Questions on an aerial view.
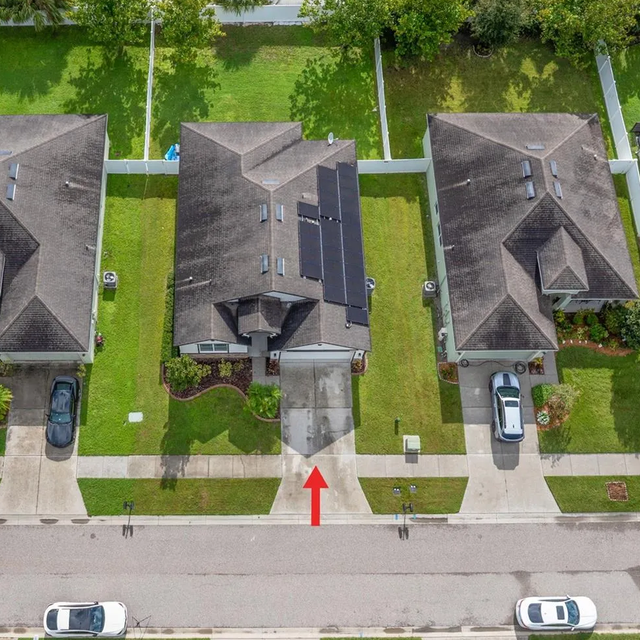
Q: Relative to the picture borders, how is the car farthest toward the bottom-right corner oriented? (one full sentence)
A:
In this picture, the car farthest toward the bottom-right corner lies horizontally.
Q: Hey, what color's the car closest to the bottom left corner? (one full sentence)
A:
In this view, the car closest to the bottom left corner is white.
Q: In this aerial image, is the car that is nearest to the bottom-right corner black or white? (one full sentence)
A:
In this view, the car that is nearest to the bottom-right corner is white.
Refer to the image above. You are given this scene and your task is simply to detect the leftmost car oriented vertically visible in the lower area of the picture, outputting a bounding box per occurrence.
[45,374,81,448]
